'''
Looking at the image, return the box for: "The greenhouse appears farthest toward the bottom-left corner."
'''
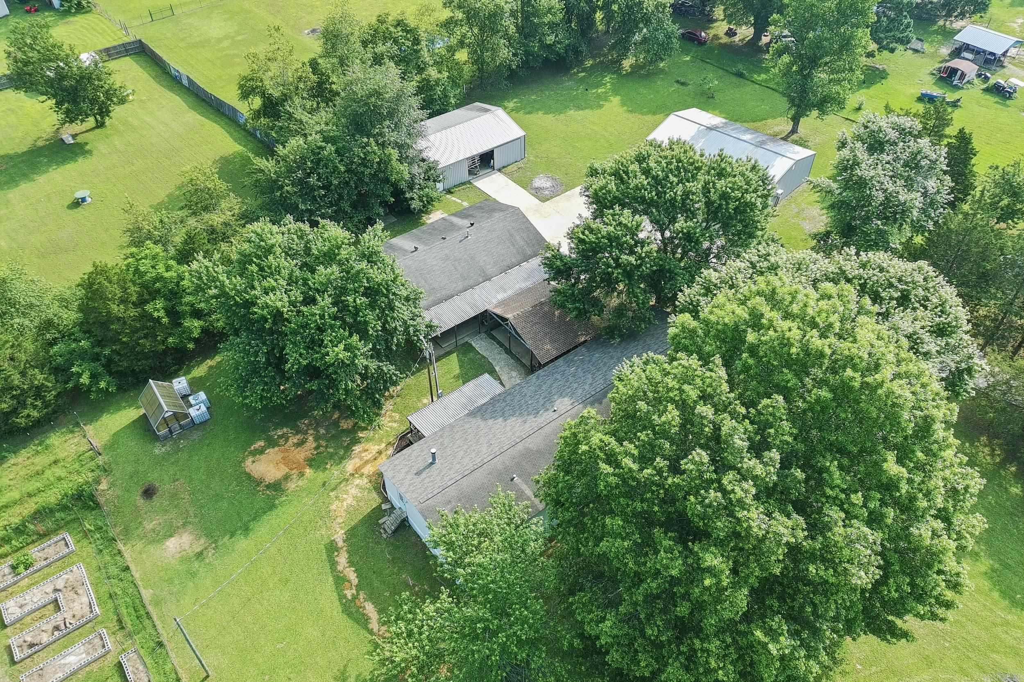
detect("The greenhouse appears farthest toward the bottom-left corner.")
[137,377,195,441]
